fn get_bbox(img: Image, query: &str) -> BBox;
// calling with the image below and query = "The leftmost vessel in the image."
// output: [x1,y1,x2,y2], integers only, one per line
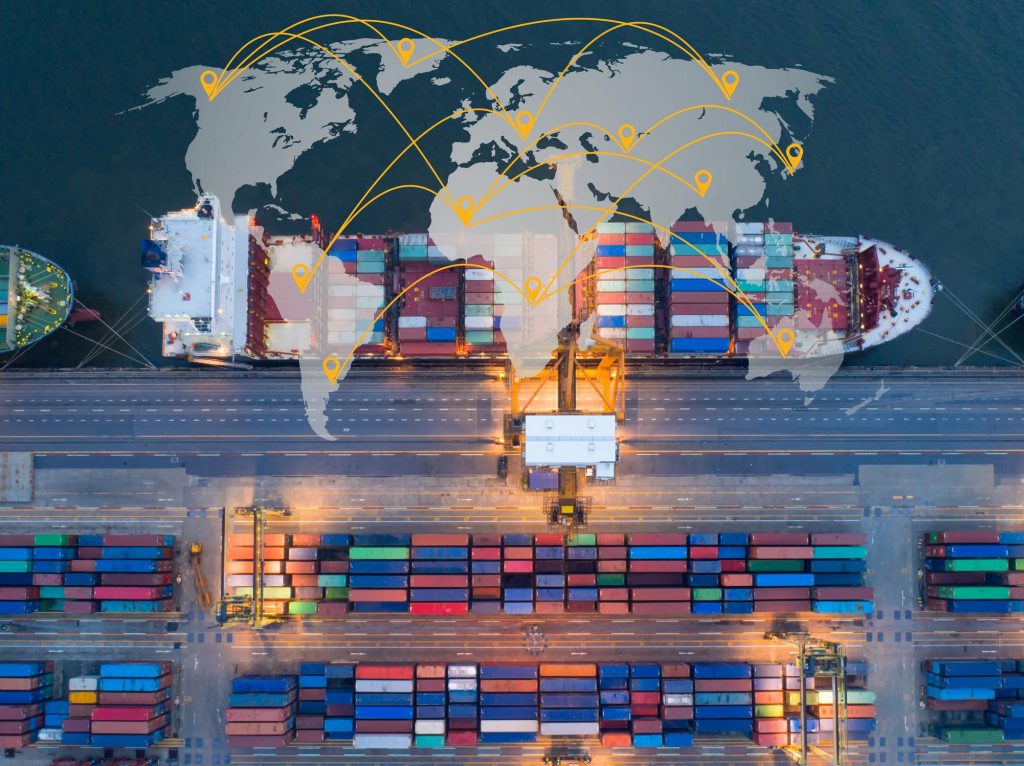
[0,244,105,352]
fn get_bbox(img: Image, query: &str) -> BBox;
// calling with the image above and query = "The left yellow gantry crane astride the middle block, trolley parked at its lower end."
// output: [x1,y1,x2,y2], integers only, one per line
[218,500,287,632]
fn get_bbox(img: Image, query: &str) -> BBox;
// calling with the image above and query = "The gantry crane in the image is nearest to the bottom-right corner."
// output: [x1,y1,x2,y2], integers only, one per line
[759,632,845,766]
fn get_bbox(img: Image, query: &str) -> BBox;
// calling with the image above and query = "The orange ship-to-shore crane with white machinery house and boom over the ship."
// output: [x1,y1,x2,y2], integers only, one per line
[495,155,622,536]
